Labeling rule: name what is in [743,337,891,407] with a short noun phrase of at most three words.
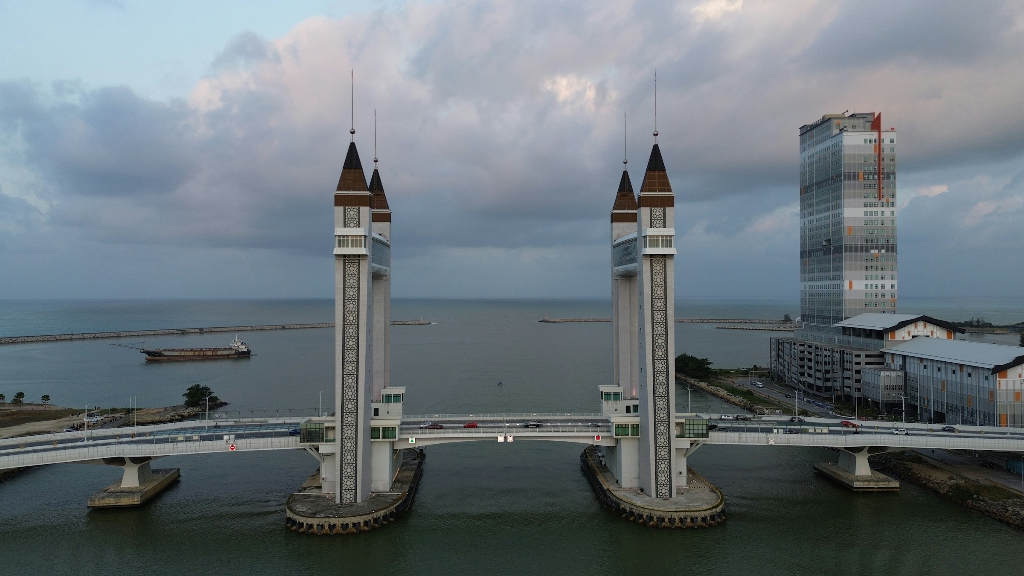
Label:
building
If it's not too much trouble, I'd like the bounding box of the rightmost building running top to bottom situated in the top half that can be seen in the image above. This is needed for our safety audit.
[799,108,898,324]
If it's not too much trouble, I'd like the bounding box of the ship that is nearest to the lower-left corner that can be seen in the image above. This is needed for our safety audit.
[101,336,258,361]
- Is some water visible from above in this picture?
Yes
